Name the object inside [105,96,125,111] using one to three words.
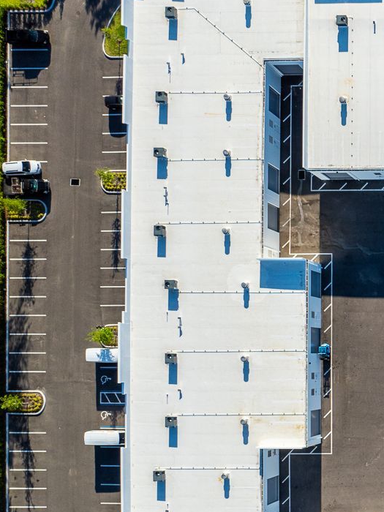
car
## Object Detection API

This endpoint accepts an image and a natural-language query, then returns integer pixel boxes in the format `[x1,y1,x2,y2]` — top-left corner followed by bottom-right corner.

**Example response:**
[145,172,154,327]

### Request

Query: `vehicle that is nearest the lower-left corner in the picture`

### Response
[87,429,126,446]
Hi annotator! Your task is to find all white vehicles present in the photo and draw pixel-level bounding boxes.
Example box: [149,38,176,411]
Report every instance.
[88,347,118,362]
[3,159,43,176]
[87,429,126,446]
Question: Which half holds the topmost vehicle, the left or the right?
left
